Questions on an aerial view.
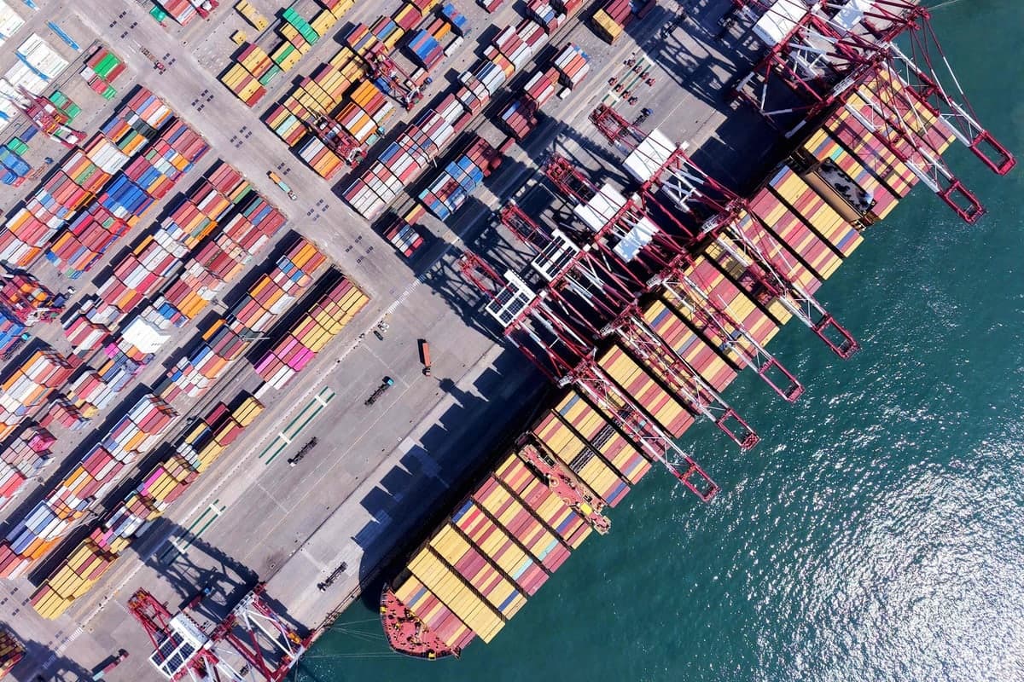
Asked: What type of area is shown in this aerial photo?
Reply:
port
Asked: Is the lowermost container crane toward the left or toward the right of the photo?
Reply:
left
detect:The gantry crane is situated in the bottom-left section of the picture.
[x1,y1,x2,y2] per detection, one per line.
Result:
[128,584,308,682]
